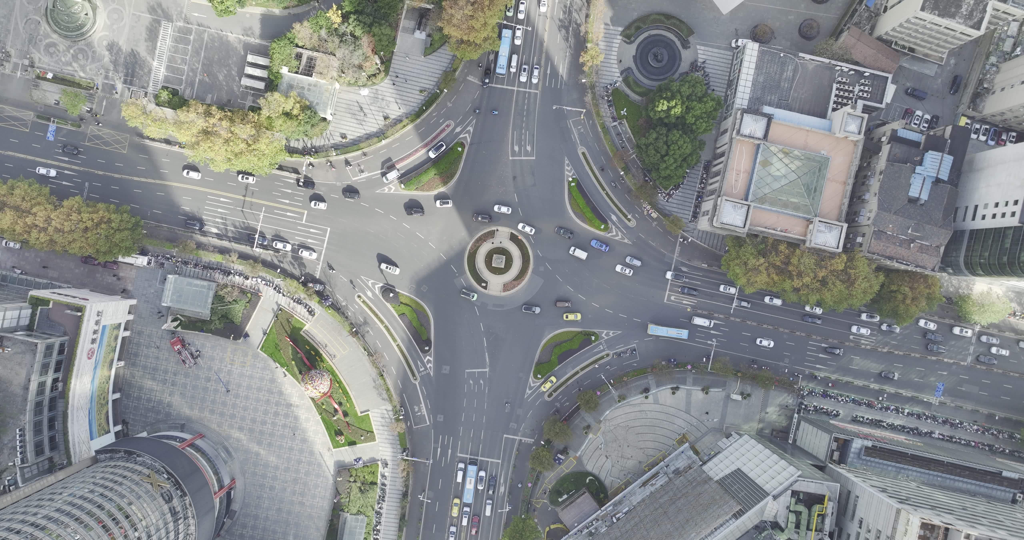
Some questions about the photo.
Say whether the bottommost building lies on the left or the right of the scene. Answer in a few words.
left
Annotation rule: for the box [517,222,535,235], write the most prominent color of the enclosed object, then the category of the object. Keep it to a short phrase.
white vehicle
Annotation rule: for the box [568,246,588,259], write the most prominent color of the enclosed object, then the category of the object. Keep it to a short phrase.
white vehicle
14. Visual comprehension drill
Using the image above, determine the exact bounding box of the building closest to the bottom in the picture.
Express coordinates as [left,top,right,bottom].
[338,509,371,540]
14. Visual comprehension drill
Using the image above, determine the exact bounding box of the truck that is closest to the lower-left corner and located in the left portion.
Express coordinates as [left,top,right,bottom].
[171,334,202,368]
